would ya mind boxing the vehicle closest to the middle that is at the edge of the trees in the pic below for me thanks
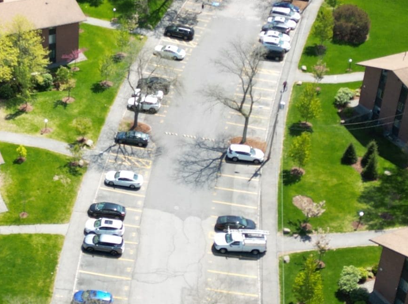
[226,143,265,165]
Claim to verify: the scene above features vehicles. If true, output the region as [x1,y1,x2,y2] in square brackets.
[81,234,127,258]
[271,5,301,20]
[258,49,292,64]
[136,77,171,92]
[266,16,298,28]
[164,25,196,40]
[127,95,163,115]
[260,21,293,35]
[212,213,258,235]
[152,46,186,61]
[82,216,127,239]
[212,226,270,257]
[86,201,129,220]
[103,171,145,191]
[226,143,265,165]
[70,290,115,304]
[113,131,152,148]
[259,30,292,43]
[260,36,293,54]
